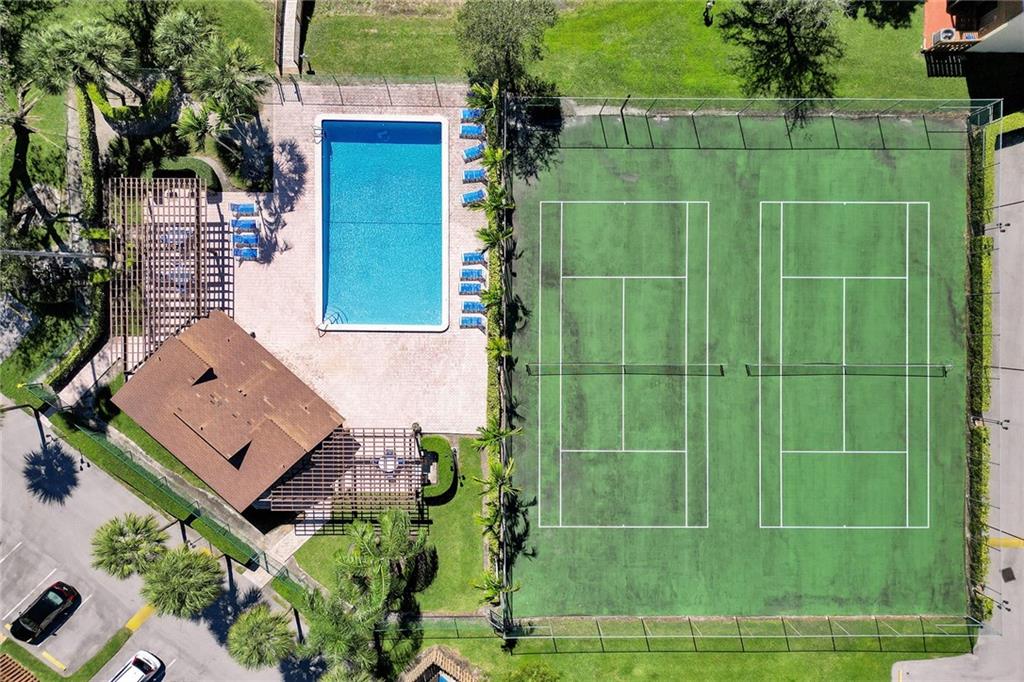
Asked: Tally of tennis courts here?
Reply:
2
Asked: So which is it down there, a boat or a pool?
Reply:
pool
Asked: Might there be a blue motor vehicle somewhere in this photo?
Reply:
No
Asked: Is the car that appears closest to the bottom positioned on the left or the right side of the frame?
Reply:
left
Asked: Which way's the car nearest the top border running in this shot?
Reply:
at an angle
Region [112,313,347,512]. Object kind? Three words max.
building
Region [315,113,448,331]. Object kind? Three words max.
swimming pool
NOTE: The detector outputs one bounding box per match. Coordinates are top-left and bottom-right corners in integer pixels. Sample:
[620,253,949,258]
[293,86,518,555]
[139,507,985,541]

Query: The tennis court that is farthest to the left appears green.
[513,113,734,616]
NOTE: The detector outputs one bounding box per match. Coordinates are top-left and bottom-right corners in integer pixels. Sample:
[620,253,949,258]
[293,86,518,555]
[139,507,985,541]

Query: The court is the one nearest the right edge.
[734,113,967,616]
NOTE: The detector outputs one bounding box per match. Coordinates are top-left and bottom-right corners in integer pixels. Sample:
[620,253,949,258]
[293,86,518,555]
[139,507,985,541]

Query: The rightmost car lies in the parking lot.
[108,649,160,682]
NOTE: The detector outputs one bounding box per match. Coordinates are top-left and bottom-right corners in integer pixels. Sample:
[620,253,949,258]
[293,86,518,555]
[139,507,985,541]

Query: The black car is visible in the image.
[8,579,77,649]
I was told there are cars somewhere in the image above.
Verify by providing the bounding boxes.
[8,579,77,649]
[108,649,160,682]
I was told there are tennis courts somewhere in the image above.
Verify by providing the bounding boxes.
[513,113,734,616]
[734,113,967,616]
